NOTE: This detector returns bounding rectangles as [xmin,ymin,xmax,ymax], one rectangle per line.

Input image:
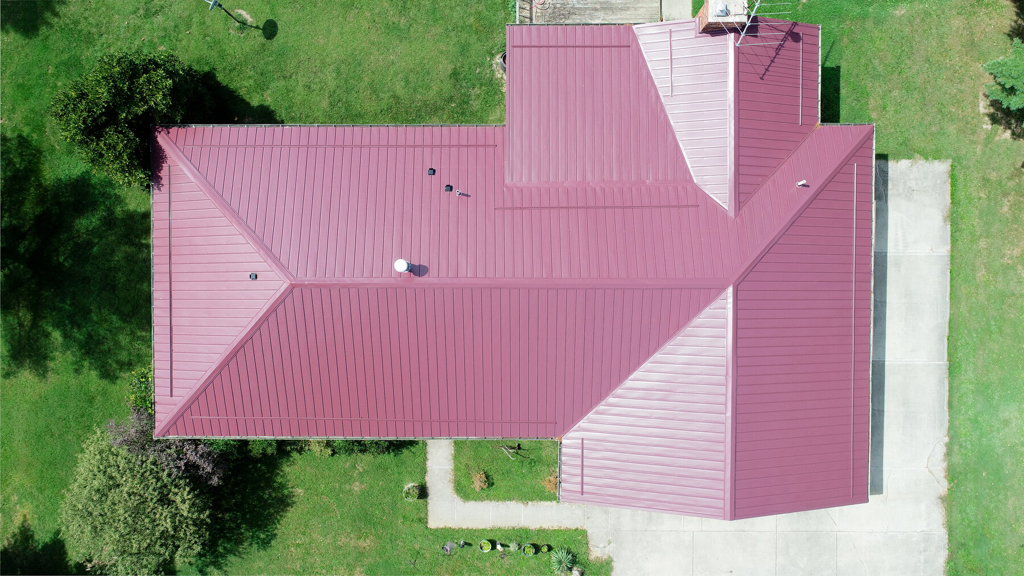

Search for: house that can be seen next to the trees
[149,13,876,522]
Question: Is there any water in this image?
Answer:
No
